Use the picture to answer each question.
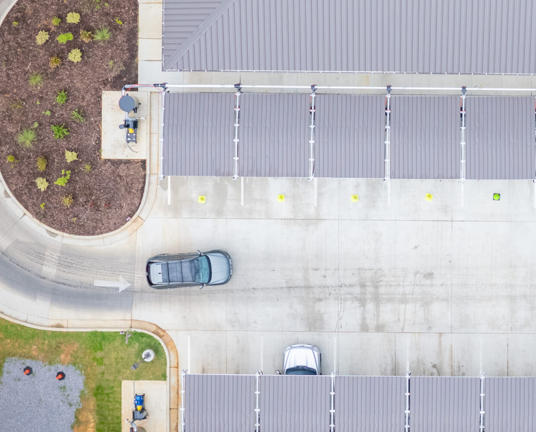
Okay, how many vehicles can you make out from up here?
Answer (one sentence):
The photo contains 2 vehicles.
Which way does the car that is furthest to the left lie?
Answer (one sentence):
The car that is furthest to the left is oriented horizontally.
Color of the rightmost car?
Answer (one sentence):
In this view, the rightmost car is white.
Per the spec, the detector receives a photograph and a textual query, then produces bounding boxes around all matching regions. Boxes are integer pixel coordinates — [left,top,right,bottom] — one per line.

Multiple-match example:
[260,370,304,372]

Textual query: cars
[280,342,323,376]
[146,250,233,290]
